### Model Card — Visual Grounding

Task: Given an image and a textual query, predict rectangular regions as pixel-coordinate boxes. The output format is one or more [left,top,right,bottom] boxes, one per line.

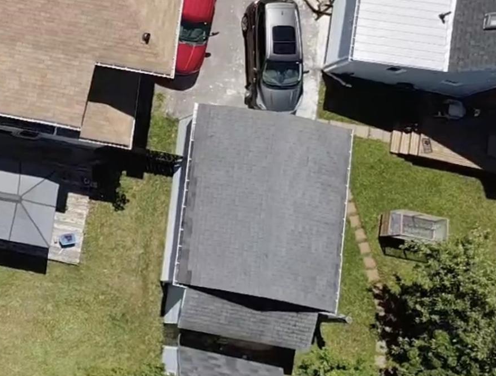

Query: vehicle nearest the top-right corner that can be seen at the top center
[245,0,308,113]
